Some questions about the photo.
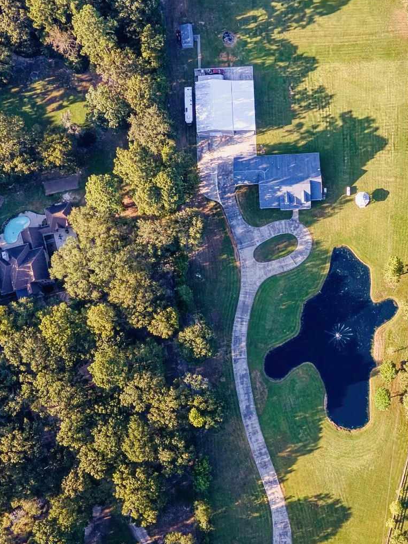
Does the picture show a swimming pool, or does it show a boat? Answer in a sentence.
This aerial view contains a swimming pool.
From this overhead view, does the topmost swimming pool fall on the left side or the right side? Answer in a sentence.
The topmost swimming pool is on the left side of the image.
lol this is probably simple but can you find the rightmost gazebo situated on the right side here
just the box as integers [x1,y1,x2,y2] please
[354,192,370,208]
